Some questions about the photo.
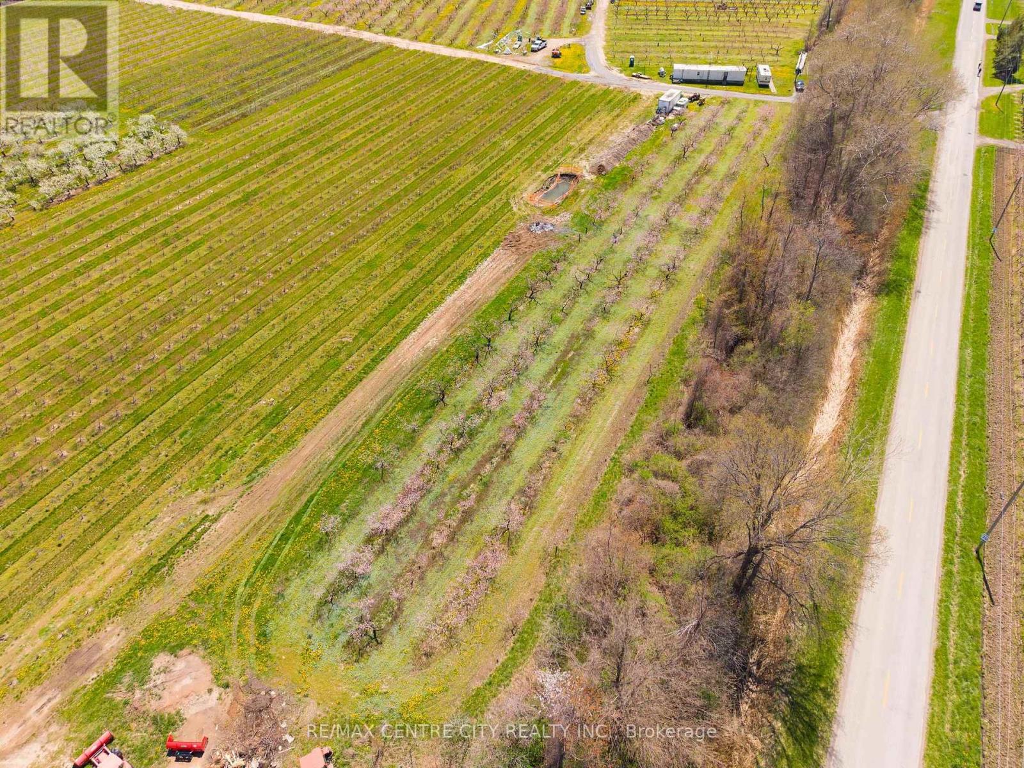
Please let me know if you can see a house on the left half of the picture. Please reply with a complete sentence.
No, the scene shows no house on the left half of the picture.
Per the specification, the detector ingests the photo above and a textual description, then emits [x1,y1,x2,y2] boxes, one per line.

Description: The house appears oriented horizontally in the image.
[671,57,746,86]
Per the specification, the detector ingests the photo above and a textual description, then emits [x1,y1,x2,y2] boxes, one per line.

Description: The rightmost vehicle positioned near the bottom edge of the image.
[289,739,330,768]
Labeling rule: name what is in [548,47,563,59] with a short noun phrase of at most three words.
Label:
vehicle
